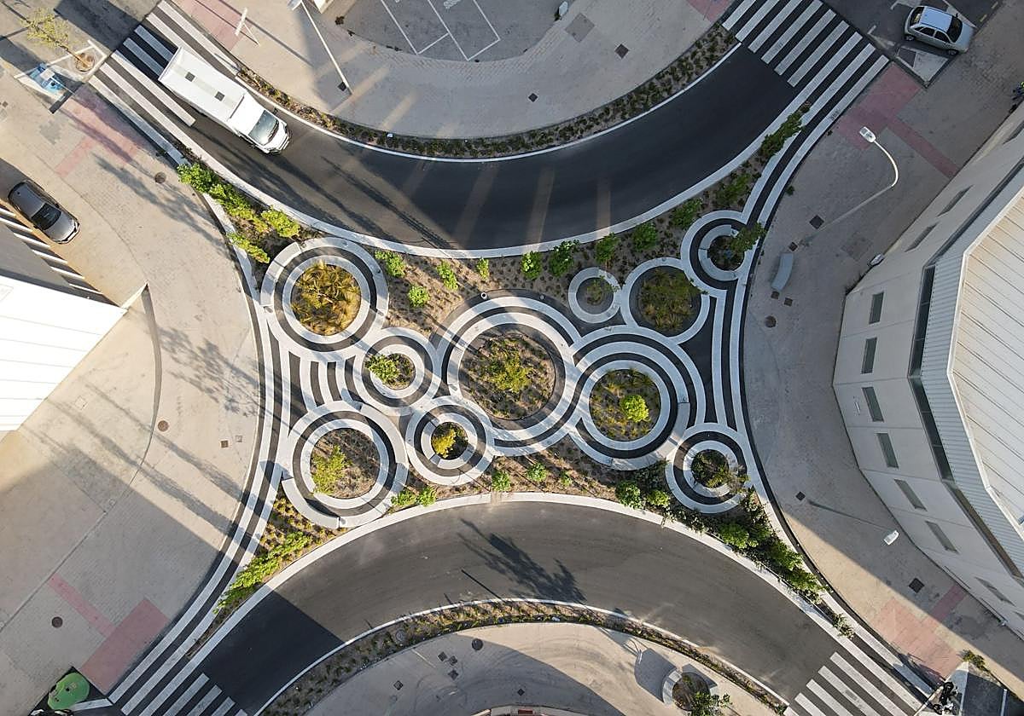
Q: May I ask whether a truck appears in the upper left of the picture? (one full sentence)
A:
Yes, a truck is visible in the upper left of the picture.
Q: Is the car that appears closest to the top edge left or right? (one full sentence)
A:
The car that appears closest to the top edge is on the right side of the image.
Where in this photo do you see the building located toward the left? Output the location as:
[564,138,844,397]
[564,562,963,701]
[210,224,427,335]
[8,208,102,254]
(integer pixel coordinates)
[0,275,128,431]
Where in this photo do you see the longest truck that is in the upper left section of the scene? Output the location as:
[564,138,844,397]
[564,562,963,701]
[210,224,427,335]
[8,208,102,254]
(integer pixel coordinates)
[160,52,292,162]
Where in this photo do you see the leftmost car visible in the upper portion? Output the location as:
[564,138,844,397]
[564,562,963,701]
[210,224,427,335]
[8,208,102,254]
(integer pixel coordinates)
[6,177,81,242]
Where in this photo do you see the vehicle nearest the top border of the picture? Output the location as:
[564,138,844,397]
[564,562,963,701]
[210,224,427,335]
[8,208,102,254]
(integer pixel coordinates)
[901,0,978,54]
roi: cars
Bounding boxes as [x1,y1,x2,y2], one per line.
[901,0,978,54]
[6,177,81,242]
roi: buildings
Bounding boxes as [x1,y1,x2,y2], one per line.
[833,106,1024,638]
[0,275,128,431]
